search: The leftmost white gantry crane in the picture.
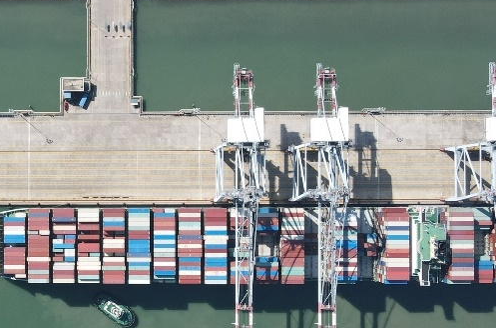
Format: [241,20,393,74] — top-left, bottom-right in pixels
[210,64,268,328]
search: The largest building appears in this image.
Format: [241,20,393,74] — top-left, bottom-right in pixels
[61,78,83,92]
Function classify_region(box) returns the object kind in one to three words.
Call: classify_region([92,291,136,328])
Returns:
boat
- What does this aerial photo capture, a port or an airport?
port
